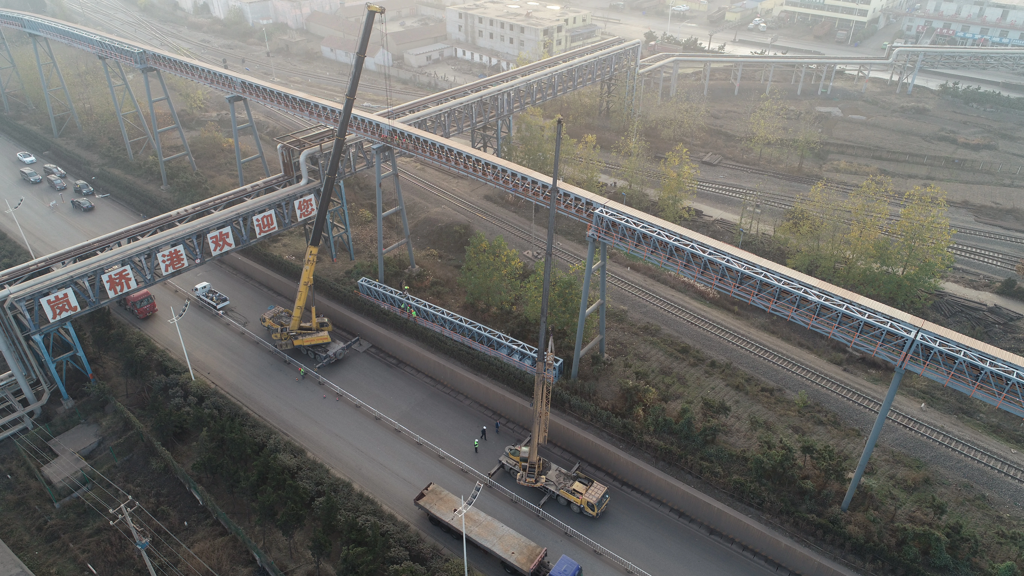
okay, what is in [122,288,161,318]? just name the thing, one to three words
truck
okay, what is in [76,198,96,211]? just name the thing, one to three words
vehicle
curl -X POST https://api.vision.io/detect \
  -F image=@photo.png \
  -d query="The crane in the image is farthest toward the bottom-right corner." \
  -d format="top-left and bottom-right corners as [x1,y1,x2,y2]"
[488,99,616,520]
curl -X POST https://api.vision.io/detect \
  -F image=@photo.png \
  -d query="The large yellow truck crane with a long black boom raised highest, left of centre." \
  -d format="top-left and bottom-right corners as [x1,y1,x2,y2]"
[254,0,414,372]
